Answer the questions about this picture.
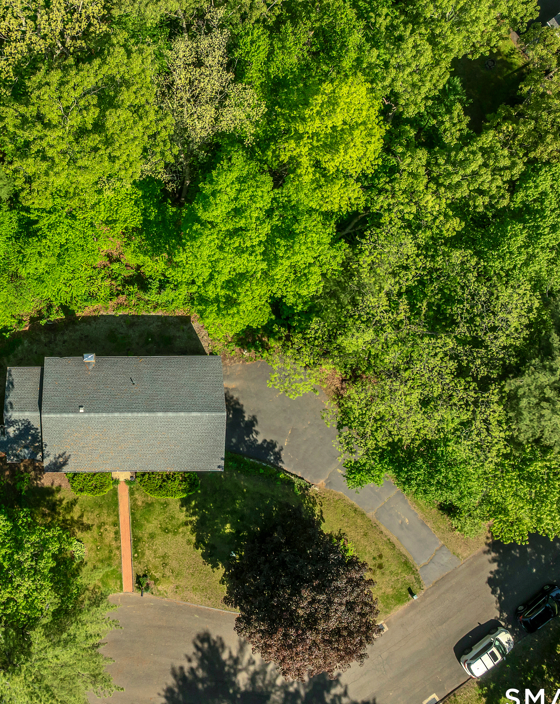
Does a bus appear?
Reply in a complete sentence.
No, the frame has no bus in it.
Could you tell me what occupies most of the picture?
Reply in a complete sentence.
Most of the picture is covered by trees.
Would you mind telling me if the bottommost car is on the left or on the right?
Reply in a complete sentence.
The bottommost car is on the right side of the image.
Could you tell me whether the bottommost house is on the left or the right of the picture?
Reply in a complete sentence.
The bottommost house sits on the left side.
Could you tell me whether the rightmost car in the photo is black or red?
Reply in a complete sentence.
The rightmost car is black.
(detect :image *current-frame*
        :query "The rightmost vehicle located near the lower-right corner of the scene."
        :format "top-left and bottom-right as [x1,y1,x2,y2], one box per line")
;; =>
[515,586,560,633]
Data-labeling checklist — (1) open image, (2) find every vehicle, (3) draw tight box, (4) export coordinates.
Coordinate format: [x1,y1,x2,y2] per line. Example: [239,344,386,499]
[515,586,560,633]
[461,627,514,679]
